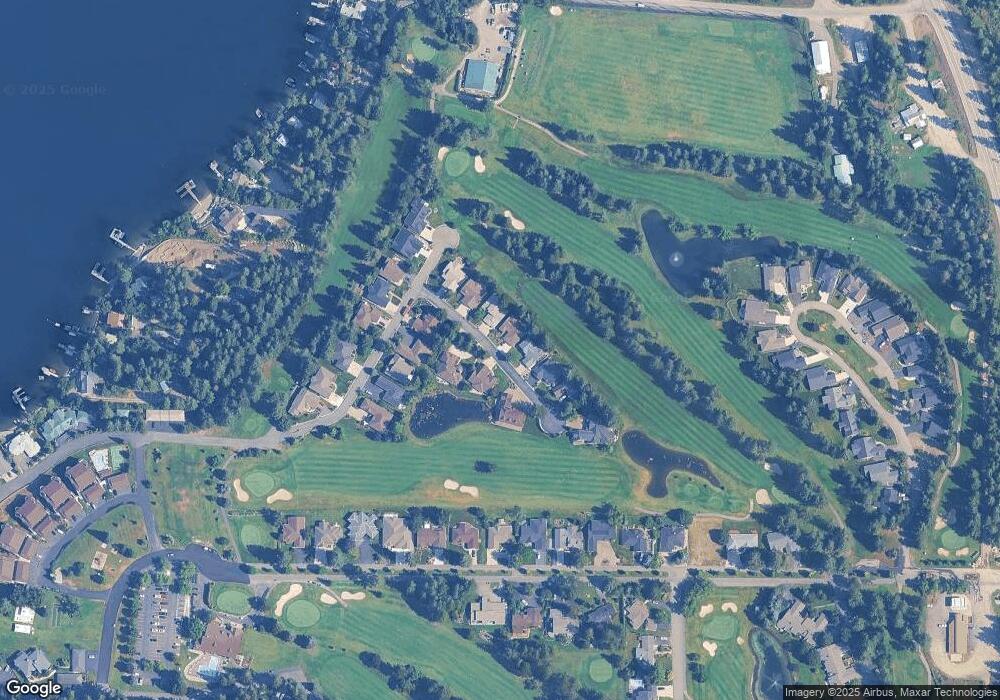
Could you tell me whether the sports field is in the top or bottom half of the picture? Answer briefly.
top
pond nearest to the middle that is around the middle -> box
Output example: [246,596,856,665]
[410,393,491,439]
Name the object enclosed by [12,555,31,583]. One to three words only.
building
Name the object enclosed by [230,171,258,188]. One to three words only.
house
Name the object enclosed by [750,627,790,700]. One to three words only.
pond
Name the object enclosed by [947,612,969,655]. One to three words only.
barn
